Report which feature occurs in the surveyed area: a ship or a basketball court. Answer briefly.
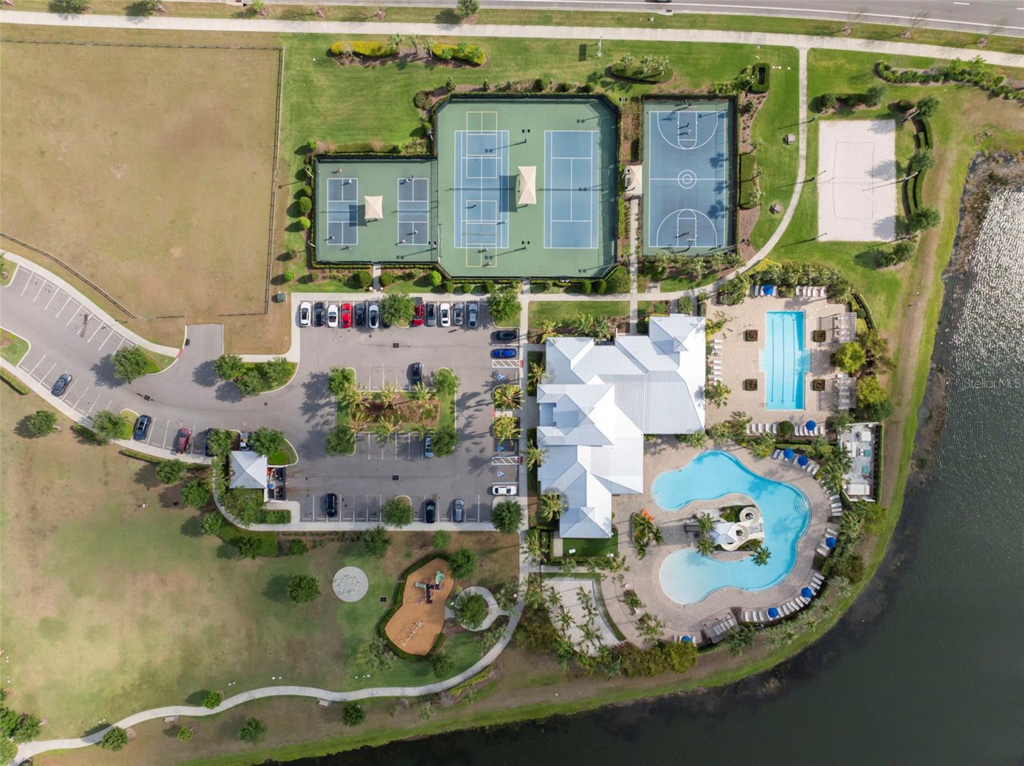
basketball court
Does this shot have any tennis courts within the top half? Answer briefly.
Yes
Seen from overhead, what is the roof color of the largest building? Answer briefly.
white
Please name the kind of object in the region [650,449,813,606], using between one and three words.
swimming pool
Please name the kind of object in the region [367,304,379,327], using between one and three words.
vehicle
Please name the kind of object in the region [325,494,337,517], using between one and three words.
vehicle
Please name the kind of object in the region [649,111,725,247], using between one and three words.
basketball court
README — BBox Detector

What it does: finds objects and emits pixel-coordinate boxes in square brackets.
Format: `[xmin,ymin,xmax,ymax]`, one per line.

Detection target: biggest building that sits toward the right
[537,316,706,538]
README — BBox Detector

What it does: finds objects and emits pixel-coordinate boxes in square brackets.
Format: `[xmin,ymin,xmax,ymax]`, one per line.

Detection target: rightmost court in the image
[818,119,896,242]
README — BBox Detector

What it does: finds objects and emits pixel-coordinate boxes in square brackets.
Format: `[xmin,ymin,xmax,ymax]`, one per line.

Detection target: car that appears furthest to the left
[52,373,72,396]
